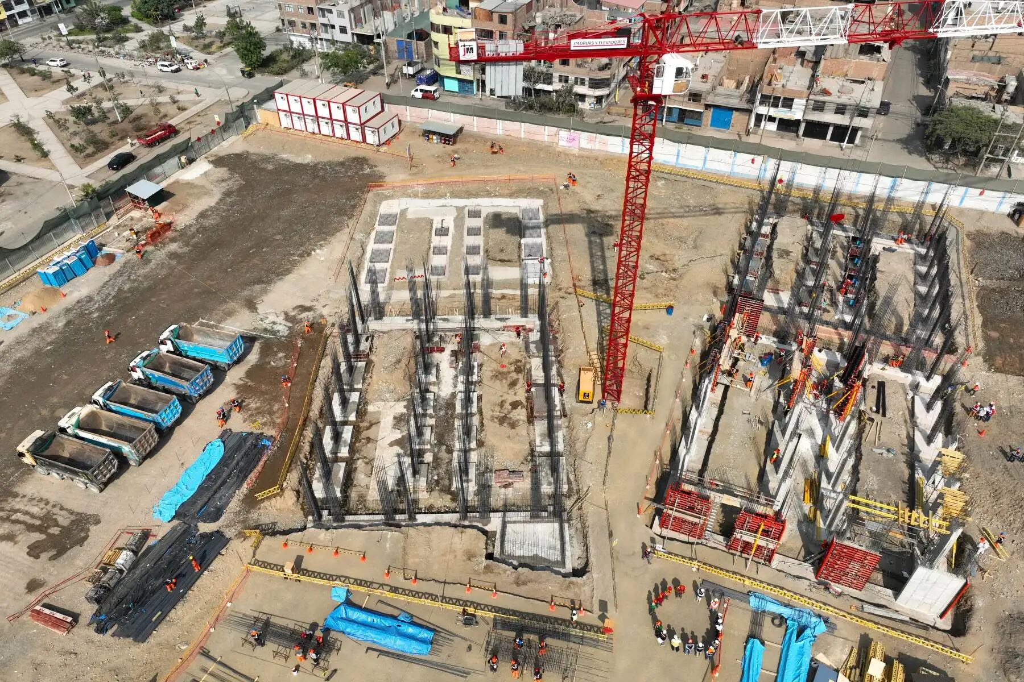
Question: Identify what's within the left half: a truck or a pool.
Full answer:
What appears within the left half is a truck.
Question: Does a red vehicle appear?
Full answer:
Yes, the photo shows a red vehicle.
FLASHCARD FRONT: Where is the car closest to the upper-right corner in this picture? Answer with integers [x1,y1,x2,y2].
[876,101,894,115]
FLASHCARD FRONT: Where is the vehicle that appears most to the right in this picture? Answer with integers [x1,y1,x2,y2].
[995,203,1024,231]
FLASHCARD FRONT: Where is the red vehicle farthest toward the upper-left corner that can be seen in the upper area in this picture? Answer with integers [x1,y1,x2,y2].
[133,122,175,148]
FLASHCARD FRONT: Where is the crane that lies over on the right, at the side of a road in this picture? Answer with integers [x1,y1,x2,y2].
[452,0,1024,406]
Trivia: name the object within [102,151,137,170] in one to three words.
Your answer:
car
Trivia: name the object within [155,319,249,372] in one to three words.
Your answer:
truck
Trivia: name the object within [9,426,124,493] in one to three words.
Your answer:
truck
